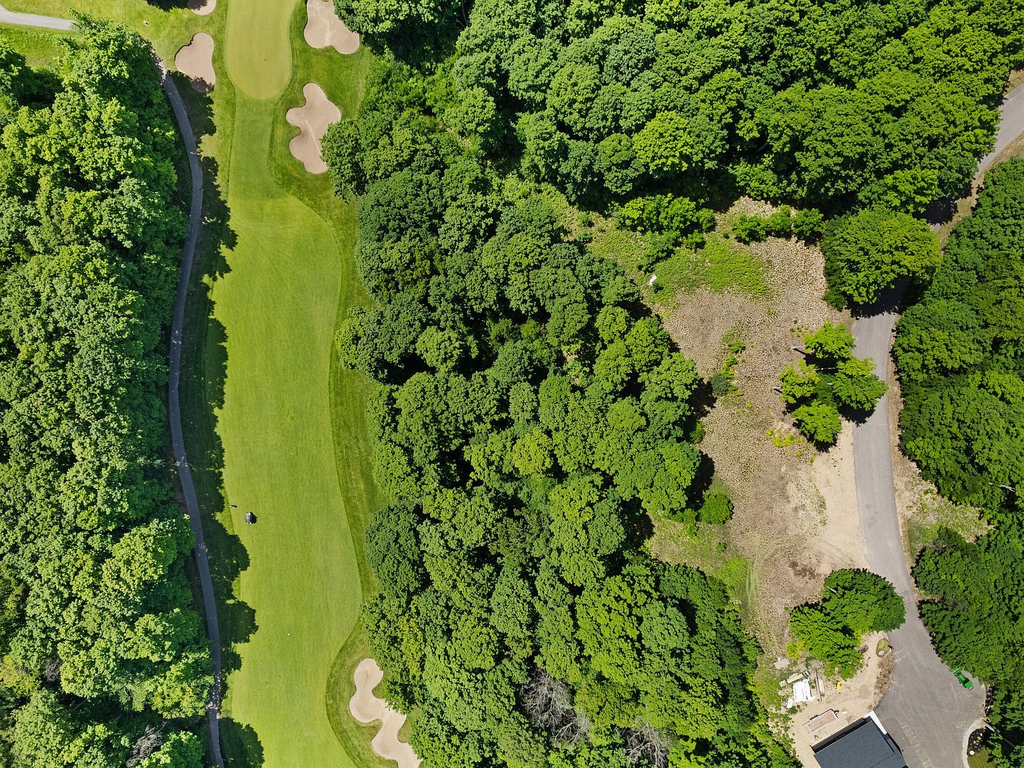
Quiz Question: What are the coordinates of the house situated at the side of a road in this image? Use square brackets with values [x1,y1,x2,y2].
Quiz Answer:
[813,717,905,768]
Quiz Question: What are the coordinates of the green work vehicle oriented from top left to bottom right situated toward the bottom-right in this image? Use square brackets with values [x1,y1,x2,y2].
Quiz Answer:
[953,668,974,688]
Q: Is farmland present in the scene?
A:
No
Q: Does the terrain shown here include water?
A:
No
